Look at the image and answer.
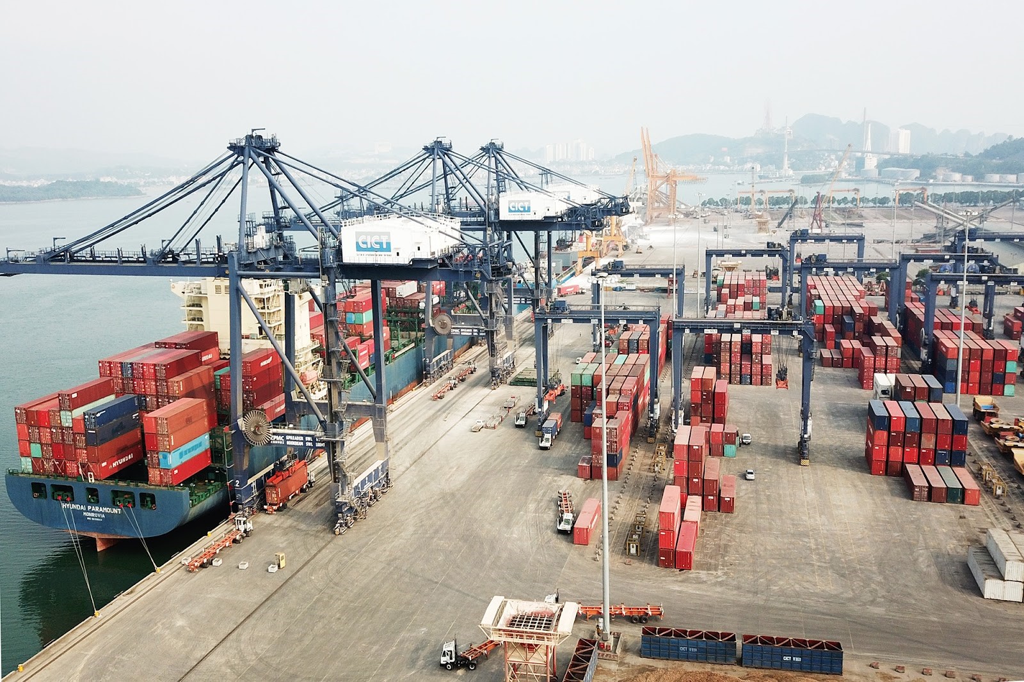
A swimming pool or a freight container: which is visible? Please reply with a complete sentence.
Of the two, only a freight container appears.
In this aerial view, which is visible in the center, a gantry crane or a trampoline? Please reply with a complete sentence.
You can see a gantry crane in the center.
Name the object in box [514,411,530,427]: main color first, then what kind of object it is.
white vehicle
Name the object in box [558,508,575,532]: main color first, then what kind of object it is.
white vehicle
